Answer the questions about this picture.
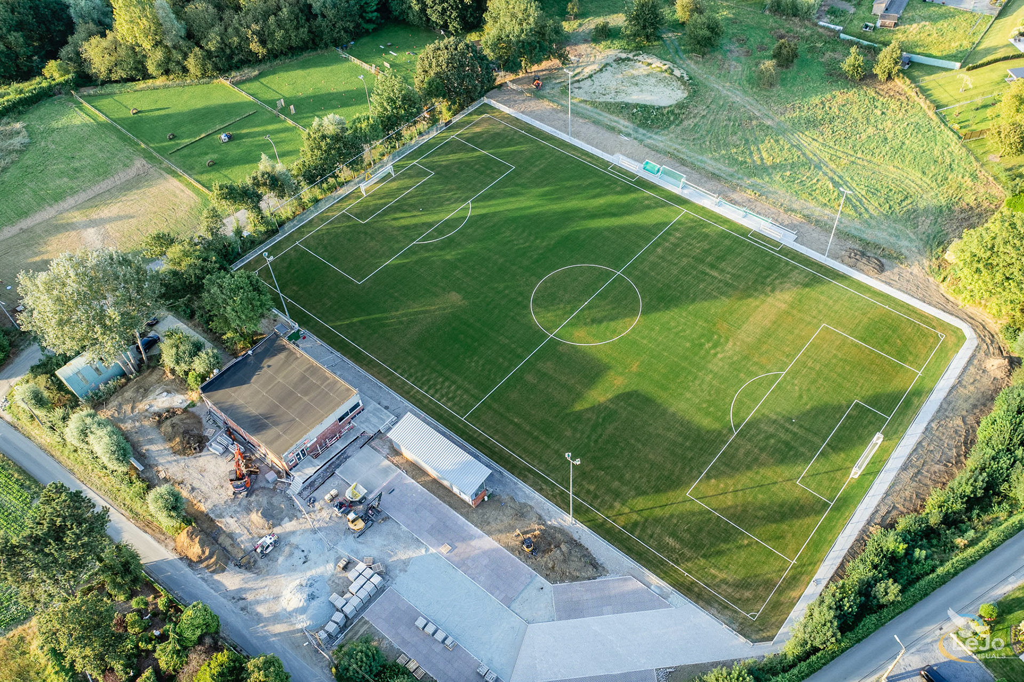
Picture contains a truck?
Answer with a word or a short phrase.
Yes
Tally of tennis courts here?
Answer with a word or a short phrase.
0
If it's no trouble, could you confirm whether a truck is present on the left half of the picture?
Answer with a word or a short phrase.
Yes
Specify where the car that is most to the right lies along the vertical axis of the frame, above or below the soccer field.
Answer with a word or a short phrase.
below it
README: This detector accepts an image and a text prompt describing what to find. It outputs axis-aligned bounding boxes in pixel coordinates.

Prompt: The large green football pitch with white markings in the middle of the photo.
[232,103,967,644]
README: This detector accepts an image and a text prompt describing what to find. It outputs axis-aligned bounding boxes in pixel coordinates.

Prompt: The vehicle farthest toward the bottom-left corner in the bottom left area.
[218,533,283,580]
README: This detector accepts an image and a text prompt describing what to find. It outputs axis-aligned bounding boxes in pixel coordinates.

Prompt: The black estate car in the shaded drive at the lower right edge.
[920,659,958,682]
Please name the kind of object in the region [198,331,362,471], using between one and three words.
building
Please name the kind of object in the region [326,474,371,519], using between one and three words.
truck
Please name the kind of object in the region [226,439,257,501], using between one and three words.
work vehicle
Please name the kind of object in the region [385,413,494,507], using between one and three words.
building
